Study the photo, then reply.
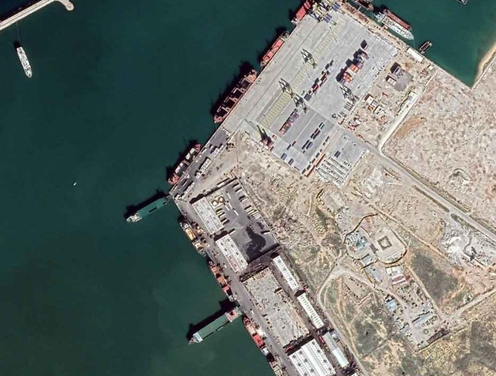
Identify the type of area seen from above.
port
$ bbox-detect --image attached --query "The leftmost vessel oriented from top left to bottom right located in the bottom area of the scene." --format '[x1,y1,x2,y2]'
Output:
[179,219,204,254]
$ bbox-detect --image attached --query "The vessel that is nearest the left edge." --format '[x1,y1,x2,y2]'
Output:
[18,45,32,77]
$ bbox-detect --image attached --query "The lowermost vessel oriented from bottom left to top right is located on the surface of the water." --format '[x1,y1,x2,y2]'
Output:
[189,308,244,344]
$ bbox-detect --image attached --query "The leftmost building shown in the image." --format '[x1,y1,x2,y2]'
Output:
[192,195,223,233]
